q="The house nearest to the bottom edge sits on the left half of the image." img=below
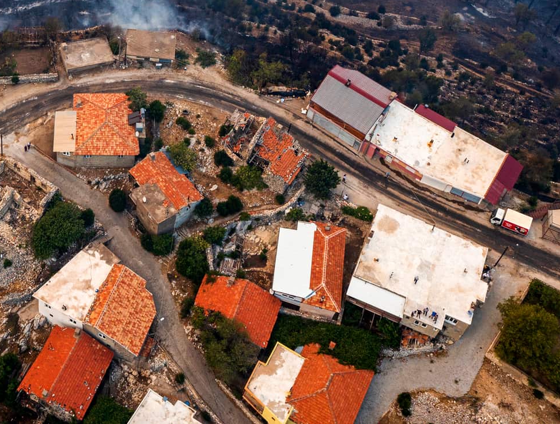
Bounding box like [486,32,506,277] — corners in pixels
[129,388,203,424]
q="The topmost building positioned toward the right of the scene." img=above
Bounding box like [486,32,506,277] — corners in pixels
[307,64,398,155]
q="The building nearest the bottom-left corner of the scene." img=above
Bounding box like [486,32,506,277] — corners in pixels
[17,325,113,424]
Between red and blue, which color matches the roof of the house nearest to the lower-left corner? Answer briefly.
red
